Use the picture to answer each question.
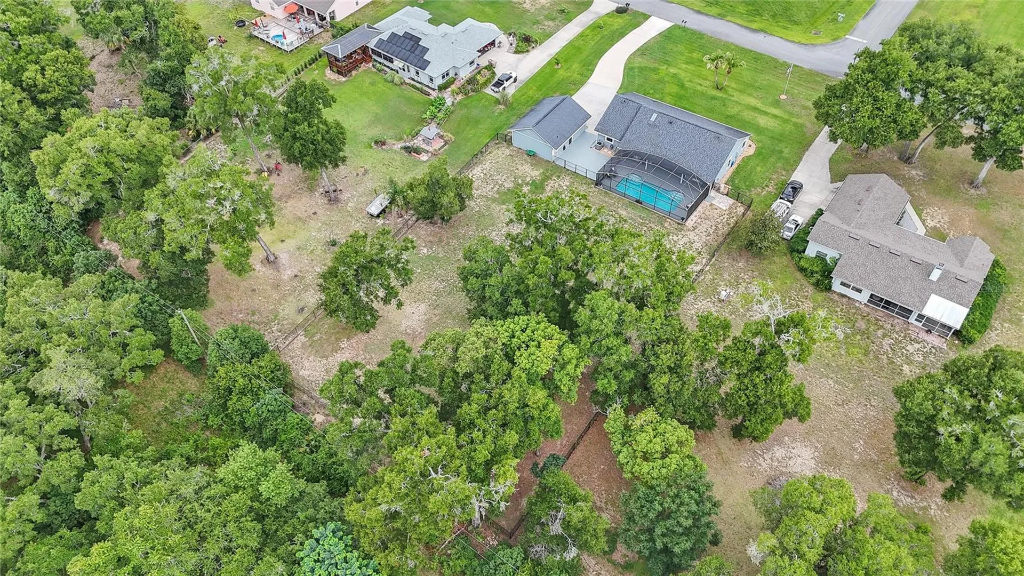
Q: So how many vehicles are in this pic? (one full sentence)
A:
In total, 4 vehicles can be seen.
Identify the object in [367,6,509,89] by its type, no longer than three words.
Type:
house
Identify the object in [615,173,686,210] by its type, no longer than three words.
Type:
swimming pool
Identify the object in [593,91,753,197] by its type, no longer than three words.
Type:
house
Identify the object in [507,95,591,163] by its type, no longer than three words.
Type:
building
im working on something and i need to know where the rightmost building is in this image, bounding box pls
[804,170,997,339]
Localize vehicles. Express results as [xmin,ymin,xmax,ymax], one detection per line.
[781,177,802,205]
[780,212,804,241]
[488,73,521,95]
[769,193,793,226]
